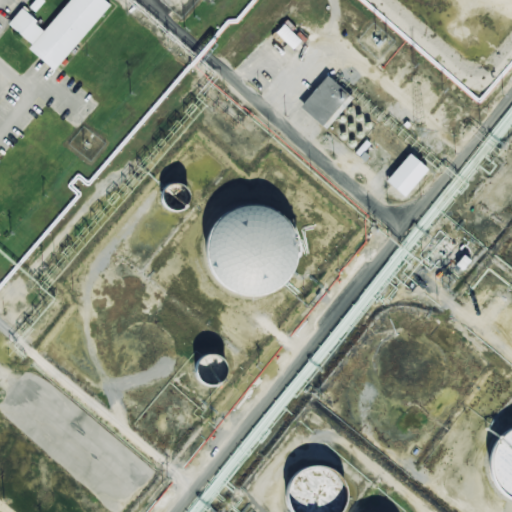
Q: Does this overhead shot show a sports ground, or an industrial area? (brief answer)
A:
industrial area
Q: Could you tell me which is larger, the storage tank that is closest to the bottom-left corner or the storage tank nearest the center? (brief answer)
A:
the storage tank nearest the center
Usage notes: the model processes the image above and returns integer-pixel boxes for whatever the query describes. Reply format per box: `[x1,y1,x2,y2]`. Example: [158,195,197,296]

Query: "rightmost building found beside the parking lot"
[30,0,115,70]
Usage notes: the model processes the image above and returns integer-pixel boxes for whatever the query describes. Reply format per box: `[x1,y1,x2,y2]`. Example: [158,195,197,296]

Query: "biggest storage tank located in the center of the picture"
[206,206,300,298]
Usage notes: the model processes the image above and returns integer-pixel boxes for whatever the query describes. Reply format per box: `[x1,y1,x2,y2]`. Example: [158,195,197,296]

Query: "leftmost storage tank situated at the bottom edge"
[287,465,350,512]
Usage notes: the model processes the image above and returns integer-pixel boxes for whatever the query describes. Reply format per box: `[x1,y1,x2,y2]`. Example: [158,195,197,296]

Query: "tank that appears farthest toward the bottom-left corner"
[196,353,229,386]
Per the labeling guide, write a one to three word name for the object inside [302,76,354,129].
building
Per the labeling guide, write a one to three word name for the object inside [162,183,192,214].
storage tank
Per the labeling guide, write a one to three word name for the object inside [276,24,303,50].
building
